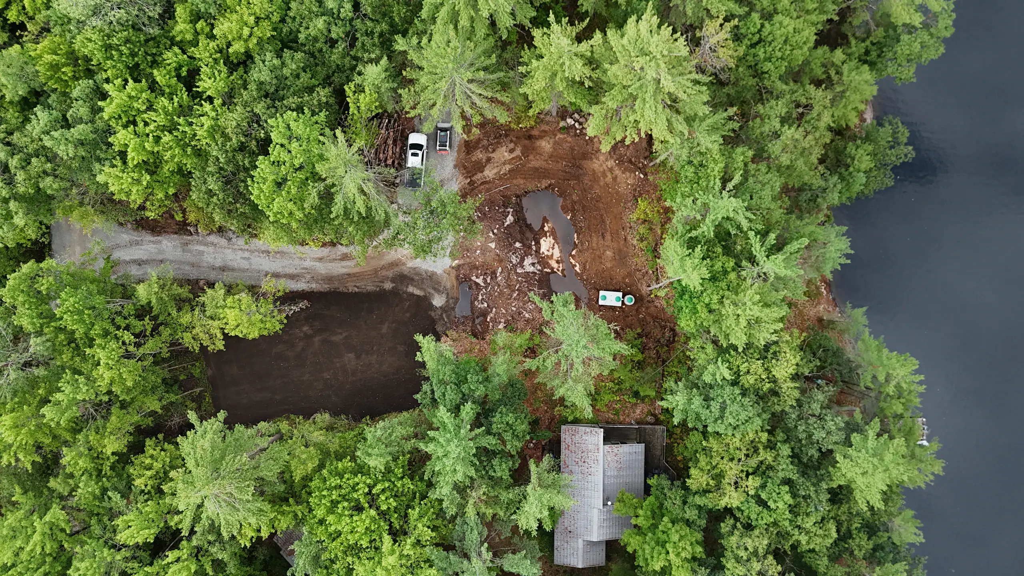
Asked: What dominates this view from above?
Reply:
trees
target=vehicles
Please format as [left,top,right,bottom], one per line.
[404,132,428,192]
[435,124,453,154]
